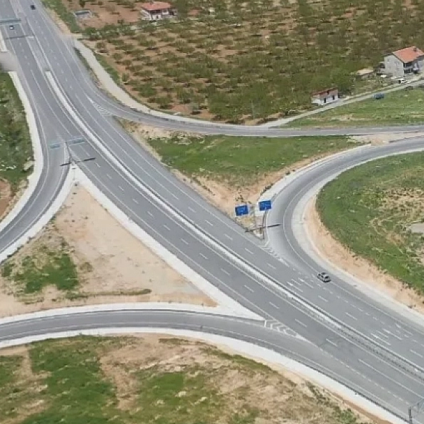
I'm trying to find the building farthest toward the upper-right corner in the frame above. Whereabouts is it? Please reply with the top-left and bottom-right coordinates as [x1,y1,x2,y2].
[388,48,424,78]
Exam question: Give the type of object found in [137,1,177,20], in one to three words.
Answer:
house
